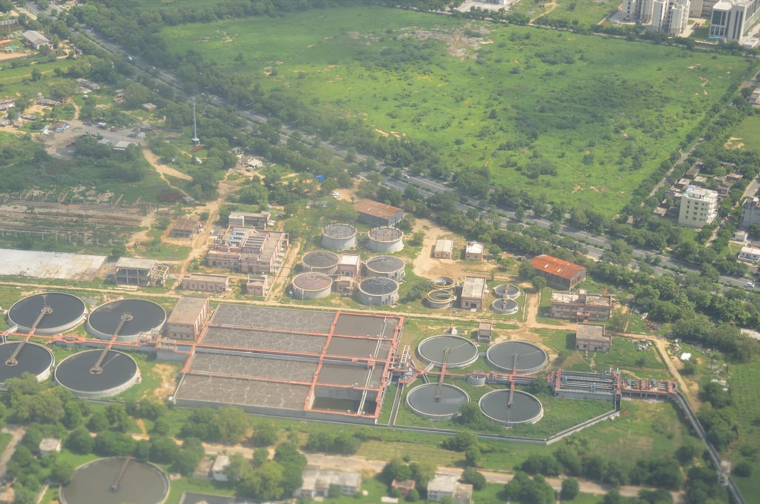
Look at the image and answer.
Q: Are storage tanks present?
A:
Yes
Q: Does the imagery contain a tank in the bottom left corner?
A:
Yes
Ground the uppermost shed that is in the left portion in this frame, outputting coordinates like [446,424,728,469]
[19,30,51,50]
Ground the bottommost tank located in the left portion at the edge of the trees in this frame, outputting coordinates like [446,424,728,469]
[58,451,171,504]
